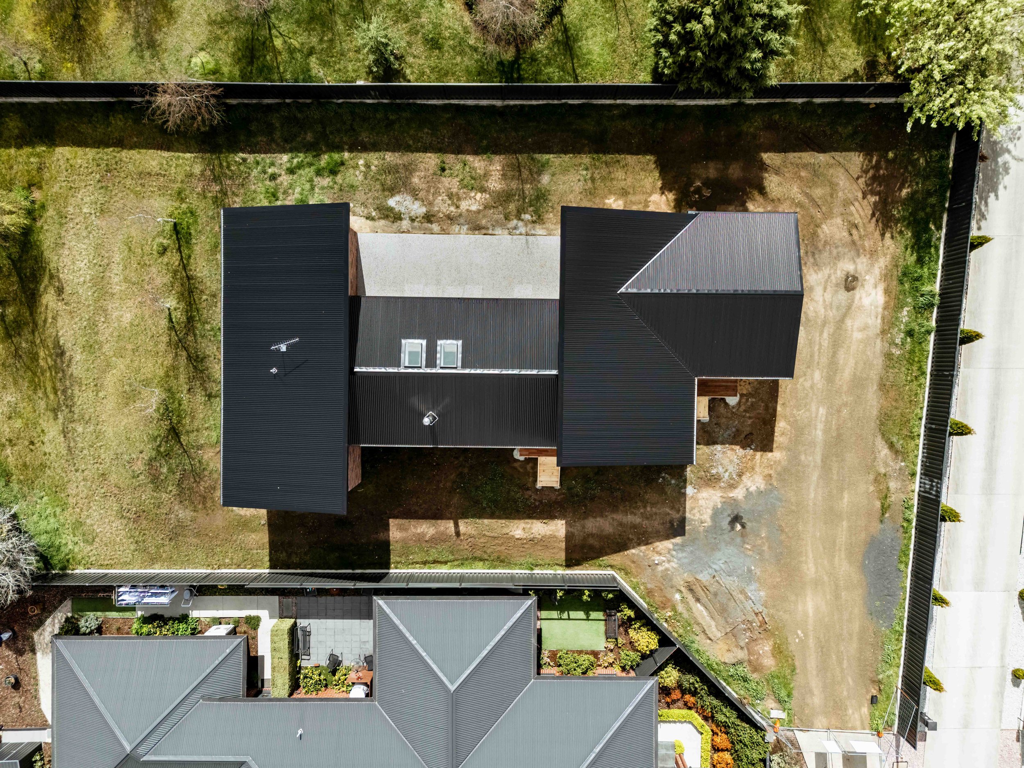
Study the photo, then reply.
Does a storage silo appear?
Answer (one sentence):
No, no storage silo can be seen from above.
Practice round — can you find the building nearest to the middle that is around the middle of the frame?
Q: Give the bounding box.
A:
[220,202,804,515]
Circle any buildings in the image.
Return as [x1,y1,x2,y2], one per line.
[0,741,43,768]
[220,202,804,515]
[48,590,660,768]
